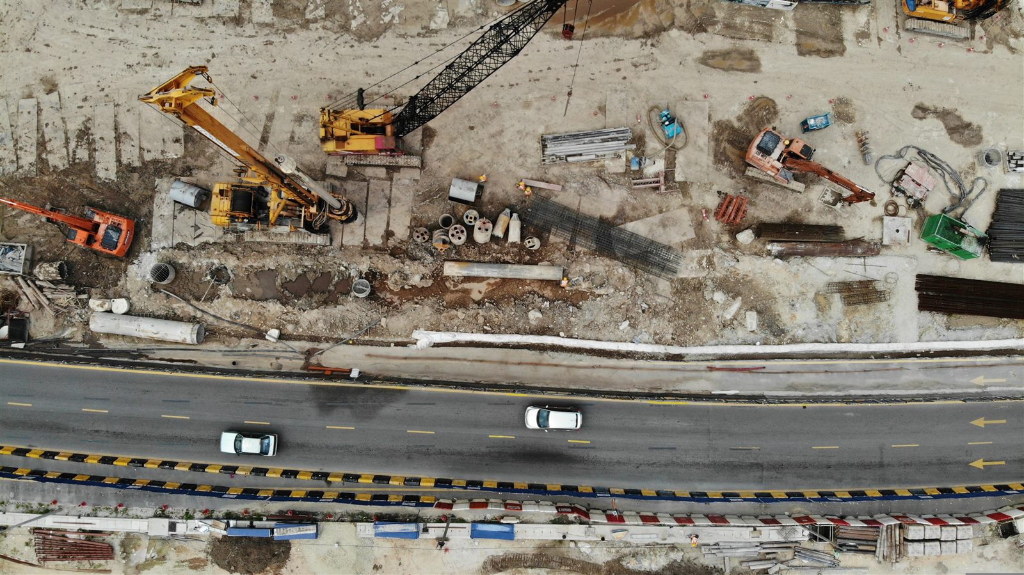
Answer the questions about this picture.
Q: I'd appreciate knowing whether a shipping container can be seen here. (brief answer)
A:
Yes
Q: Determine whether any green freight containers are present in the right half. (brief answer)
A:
Yes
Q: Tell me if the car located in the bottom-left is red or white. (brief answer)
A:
white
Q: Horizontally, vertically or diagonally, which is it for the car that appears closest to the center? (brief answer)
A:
horizontally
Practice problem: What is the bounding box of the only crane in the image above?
[319,0,591,171]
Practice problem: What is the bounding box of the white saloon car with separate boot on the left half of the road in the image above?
[218,431,277,459]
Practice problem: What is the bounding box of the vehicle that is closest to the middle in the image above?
[524,404,583,433]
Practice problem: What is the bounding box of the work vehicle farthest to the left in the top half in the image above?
[0,196,143,260]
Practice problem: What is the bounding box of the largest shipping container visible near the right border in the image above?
[921,213,987,259]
